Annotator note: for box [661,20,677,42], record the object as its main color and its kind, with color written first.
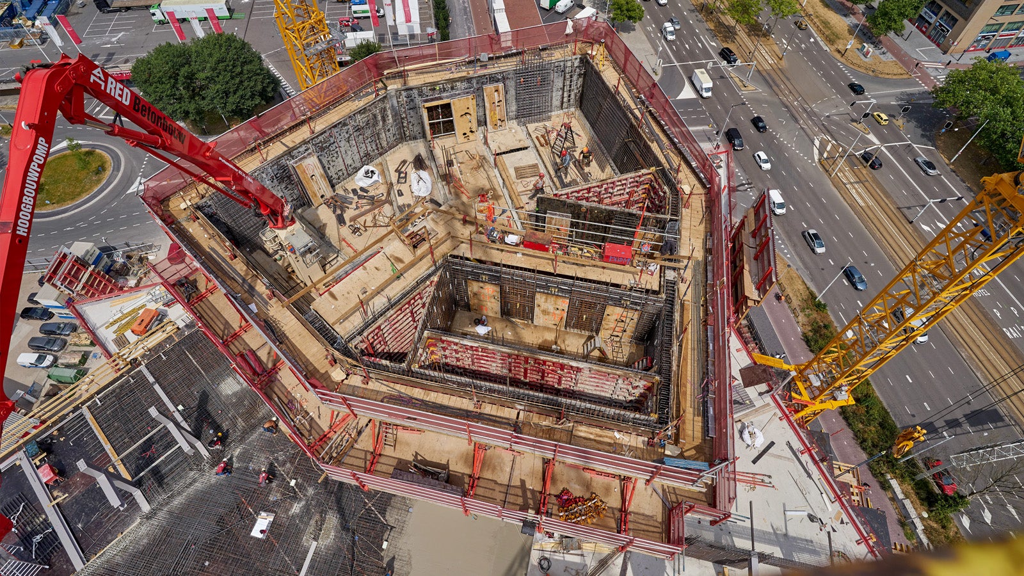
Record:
white vehicle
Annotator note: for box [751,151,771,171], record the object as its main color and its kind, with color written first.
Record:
white car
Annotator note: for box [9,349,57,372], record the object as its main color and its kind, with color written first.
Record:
white vehicle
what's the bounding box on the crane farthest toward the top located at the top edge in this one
[274,0,365,89]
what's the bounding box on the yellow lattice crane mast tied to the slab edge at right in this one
[752,168,1024,429]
